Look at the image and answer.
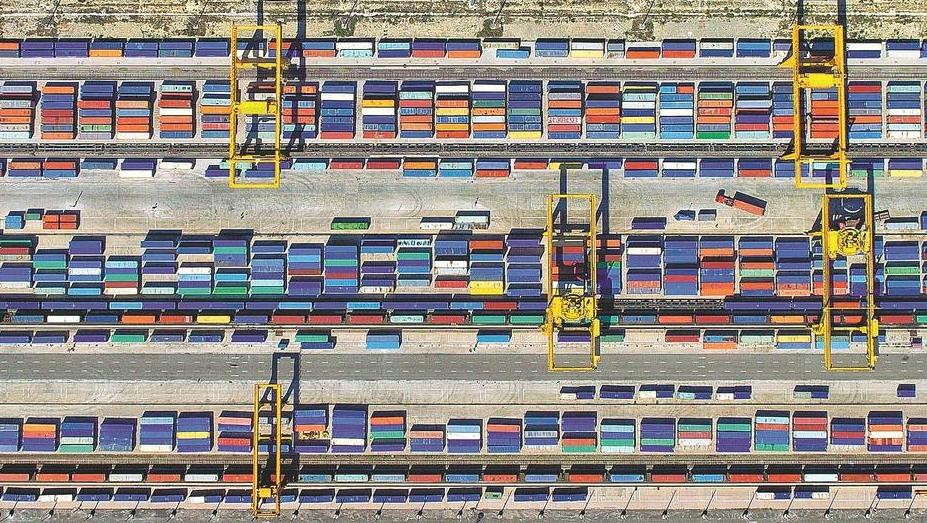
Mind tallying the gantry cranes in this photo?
five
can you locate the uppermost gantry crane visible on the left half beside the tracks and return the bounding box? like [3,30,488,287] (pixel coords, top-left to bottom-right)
[229,25,298,187]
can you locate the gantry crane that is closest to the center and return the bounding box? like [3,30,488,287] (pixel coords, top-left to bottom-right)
[534,193,604,369]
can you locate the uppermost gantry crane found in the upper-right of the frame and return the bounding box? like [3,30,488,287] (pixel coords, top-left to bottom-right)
[771,26,847,188]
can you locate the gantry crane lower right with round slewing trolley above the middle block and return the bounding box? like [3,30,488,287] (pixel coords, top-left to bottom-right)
[800,192,880,368]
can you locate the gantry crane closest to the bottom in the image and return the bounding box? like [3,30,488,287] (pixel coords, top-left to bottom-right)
[249,385,297,516]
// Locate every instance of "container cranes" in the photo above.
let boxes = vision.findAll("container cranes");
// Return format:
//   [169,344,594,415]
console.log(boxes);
[229,25,298,187]
[249,385,297,516]
[800,192,880,368]
[771,26,847,188]
[534,193,604,369]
